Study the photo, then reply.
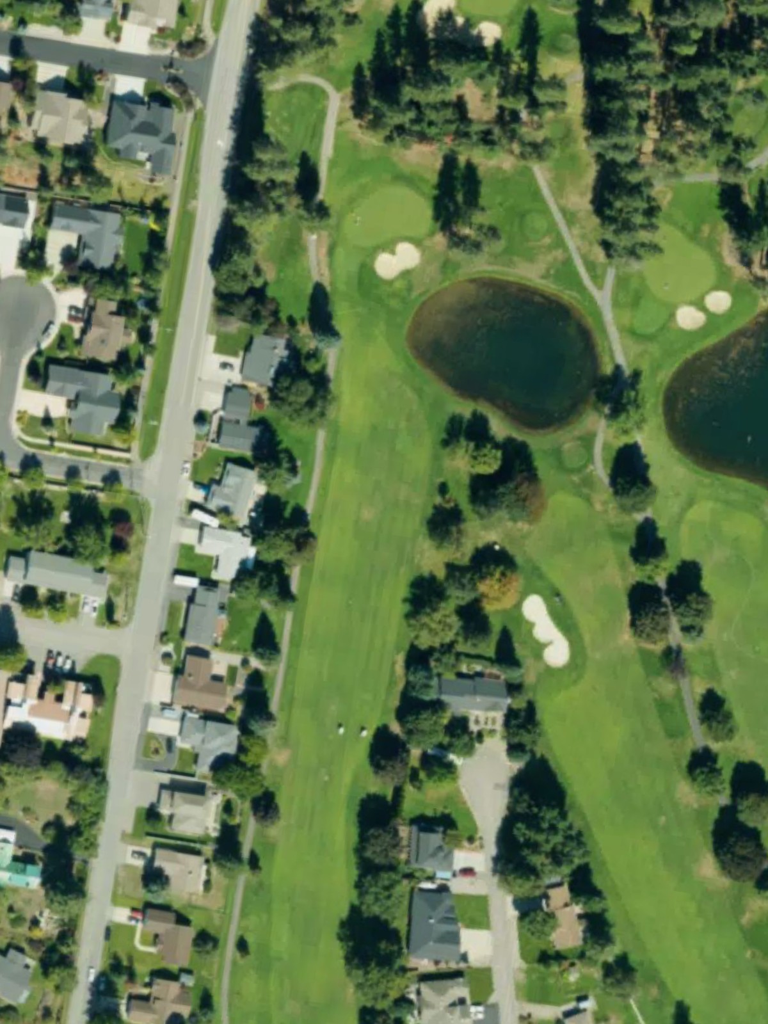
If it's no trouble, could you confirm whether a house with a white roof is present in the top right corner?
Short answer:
No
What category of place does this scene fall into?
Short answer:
golf course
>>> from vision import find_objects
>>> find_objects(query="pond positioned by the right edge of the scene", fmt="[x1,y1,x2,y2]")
[664,314,768,483]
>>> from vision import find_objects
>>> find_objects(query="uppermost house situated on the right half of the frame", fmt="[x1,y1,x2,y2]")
[440,676,510,716]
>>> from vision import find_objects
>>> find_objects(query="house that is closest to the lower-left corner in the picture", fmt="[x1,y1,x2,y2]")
[0,945,36,1008]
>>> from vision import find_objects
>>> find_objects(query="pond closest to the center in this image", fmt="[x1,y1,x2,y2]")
[410,278,600,429]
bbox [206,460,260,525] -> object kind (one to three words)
house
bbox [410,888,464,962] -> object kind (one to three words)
house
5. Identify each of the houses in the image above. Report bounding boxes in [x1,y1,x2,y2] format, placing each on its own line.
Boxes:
[243,333,284,384]
[106,100,177,176]
[152,850,204,894]
[158,788,214,836]
[143,907,196,969]
[126,978,195,1024]
[0,82,15,135]
[440,676,510,716]
[50,200,125,270]
[124,0,178,27]
[545,883,585,951]
[197,524,249,585]
[206,460,260,525]
[33,90,91,146]
[172,653,228,713]
[79,0,114,20]
[410,823,453,872]
[44,364,120,438]
[410,888,464,962]
[0,945,36,1008]
[81,296,126,364]
[185,584,219,646]
[179,715,240,773]
[218,385,259,451]
[0,674,94,744]
[0,829,43,891]
[5,552,108,594]
[418,978,474,1024]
